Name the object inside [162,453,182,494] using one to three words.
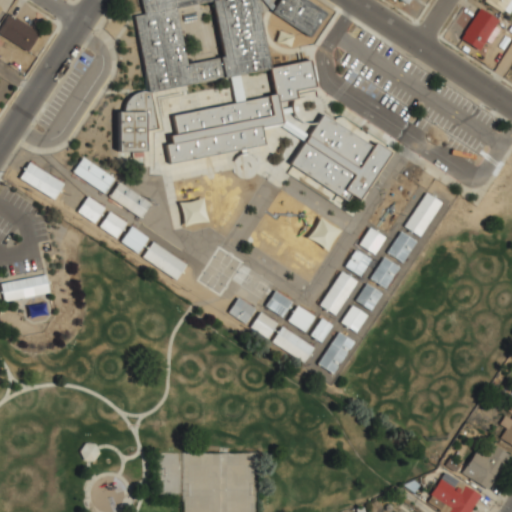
sports court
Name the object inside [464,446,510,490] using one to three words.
house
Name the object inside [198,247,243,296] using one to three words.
basketball court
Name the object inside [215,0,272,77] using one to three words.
building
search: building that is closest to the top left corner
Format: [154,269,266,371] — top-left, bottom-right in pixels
[0,14,38,52]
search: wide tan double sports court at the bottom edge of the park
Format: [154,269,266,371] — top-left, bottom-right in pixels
[184,454,256,512]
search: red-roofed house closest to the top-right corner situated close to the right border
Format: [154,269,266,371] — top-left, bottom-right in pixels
[462,8,500,50]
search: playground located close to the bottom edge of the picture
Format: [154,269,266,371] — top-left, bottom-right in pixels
[86,475,128,512]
